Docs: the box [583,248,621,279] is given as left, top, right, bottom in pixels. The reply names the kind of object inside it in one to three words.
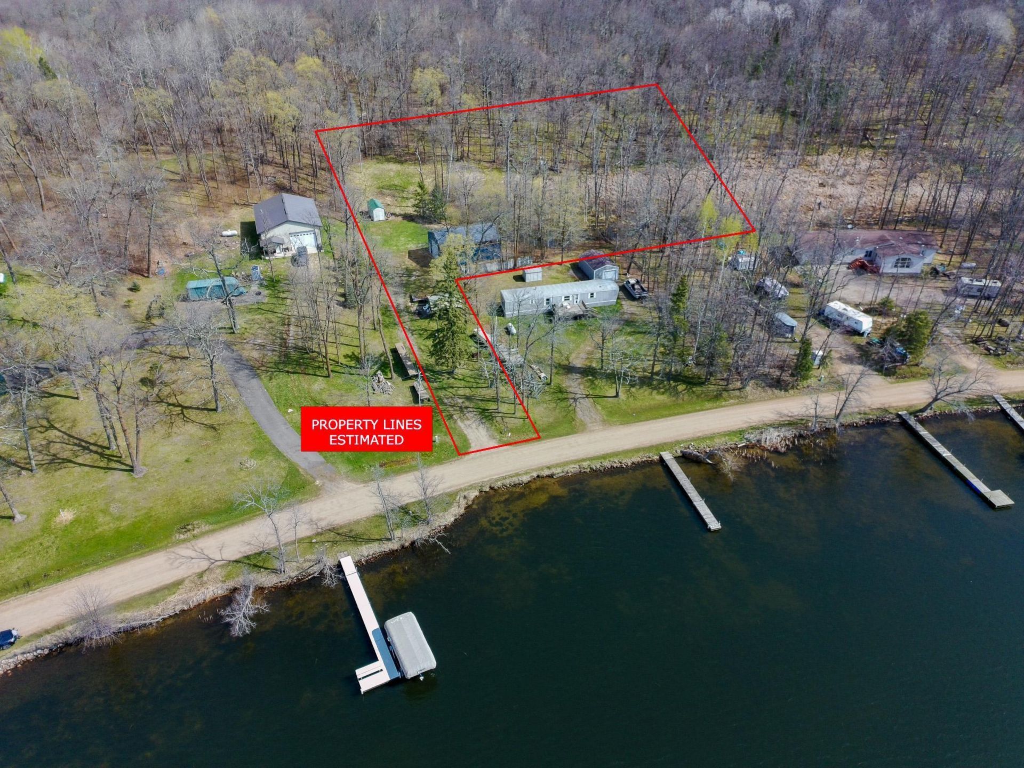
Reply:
building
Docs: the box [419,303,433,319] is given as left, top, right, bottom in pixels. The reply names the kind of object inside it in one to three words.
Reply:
vehicle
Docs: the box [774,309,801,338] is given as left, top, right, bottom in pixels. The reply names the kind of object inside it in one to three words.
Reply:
shed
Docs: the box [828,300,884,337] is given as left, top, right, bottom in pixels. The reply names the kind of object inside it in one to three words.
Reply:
trailer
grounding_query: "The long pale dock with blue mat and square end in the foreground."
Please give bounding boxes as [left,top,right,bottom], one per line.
[341,558,399,695]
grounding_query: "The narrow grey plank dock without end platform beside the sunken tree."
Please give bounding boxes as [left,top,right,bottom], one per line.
[660,452,720,530]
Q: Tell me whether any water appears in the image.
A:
Yes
